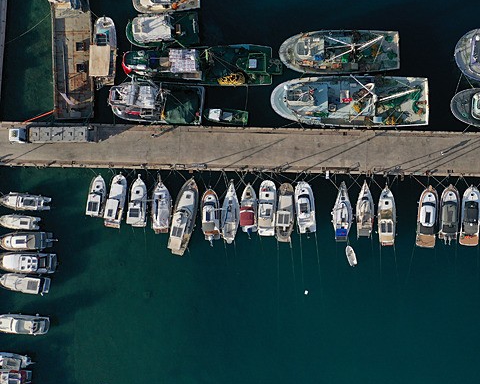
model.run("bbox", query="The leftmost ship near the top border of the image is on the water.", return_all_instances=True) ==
[4,0,100,126]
